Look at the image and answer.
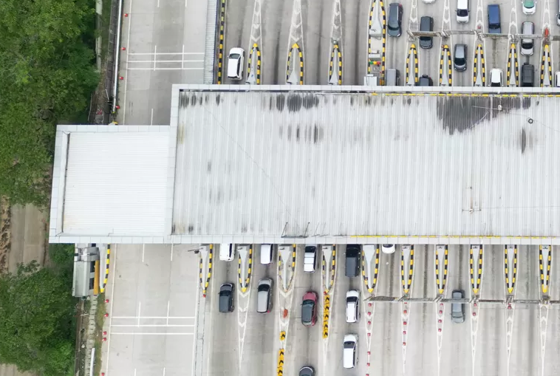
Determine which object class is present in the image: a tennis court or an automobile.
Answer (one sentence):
It is an automobile that can be seen here.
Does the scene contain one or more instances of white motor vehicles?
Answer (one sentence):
Yes, the picture does show a white motor vehicle.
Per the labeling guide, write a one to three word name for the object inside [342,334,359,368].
car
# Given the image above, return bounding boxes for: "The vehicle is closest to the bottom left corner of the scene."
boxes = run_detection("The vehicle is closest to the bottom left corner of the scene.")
[218,284,236,312]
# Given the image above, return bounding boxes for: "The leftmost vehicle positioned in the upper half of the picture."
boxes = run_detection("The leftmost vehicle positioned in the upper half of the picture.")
[227,49,245,80]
